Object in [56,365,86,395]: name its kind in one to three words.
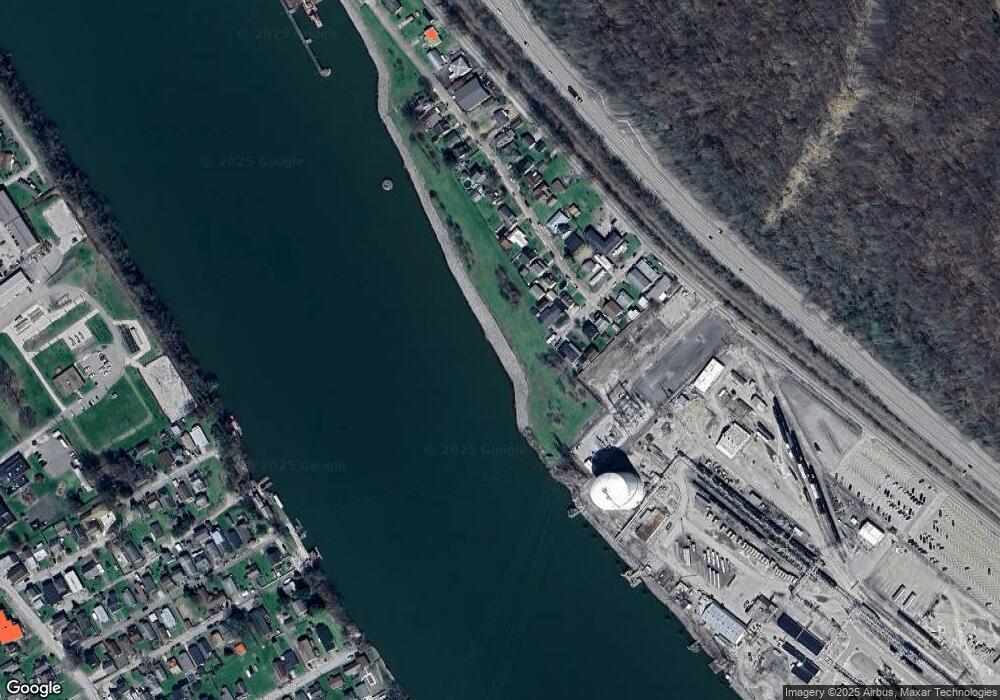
building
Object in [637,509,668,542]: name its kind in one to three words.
shed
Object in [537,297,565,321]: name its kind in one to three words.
house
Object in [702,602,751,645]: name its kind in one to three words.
building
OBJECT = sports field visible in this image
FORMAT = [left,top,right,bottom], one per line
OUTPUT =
[66,371,159,460]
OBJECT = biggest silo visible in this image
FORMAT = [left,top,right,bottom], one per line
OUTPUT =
[591,472,644,512]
